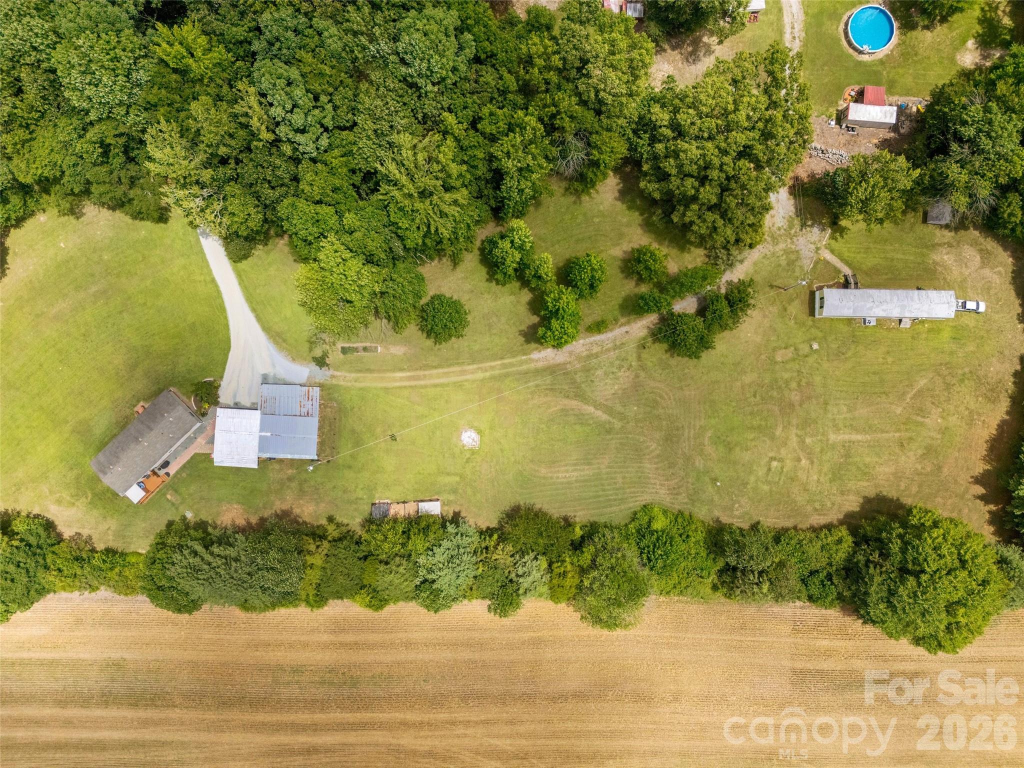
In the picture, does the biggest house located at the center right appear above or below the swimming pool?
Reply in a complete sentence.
As seen from overhead, the biggest house located at the center right falls below the swimming pool in the picture.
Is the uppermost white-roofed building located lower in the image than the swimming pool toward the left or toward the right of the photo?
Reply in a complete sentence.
The uppermost white-roofed building located lower in the image than the swimming pool is on the right side of the image.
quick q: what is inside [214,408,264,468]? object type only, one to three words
barn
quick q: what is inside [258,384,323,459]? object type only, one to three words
barn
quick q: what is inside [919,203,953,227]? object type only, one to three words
shed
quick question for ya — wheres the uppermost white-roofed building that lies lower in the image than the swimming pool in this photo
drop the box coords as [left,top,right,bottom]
[840,103,897,129]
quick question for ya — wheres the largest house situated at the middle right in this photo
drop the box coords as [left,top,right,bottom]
[814,289,956,320]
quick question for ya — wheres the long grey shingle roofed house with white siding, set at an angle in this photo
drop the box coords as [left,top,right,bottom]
[91,390,205,495]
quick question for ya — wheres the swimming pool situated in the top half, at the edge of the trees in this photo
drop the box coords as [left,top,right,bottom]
[845,6,895,56]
